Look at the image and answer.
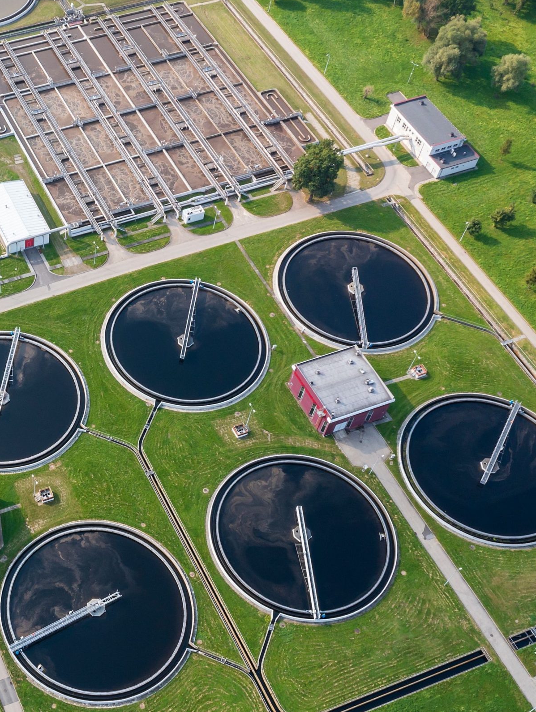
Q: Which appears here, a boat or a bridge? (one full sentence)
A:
The image shows a bridge.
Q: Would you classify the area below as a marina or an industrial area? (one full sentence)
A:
This image shows an industrial area.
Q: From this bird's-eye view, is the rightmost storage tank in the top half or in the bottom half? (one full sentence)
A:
You can find the rightmost storage tank in the bottom half.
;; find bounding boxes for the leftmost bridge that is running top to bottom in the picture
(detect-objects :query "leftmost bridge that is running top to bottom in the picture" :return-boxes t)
[0,328,21,416]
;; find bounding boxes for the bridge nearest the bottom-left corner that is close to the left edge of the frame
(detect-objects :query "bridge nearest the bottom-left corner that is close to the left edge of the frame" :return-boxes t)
[7,589,124,657]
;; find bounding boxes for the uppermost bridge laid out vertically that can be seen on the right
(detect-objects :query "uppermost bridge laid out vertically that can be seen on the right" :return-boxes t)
[347,266,372,350]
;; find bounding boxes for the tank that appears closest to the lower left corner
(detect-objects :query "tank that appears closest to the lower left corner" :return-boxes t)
[0,521,199,706]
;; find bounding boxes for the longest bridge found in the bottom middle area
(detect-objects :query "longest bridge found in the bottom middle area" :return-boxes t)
[291,505,325,621]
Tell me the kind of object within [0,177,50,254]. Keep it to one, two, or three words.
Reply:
shed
